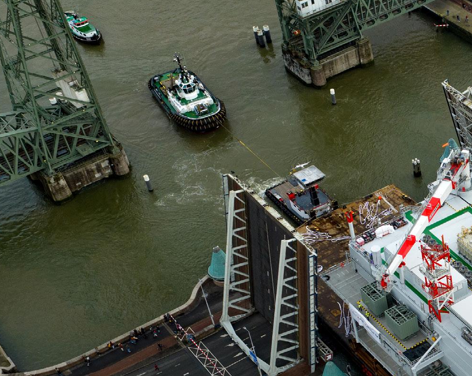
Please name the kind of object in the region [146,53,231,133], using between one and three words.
boat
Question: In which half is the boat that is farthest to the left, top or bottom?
top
